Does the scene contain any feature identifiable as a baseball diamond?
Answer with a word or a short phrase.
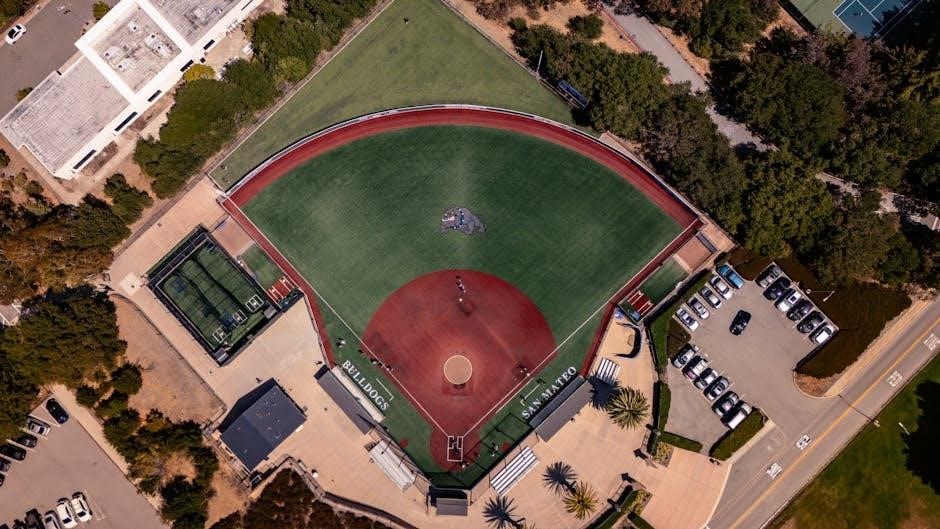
Yes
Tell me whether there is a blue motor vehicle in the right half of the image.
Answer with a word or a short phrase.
Yes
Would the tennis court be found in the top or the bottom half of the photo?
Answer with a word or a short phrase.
top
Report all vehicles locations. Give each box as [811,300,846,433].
[713,390,738,416]
[686,296,711,320]
[786,298,812,321]
[693,366,717,391]
[73,494,92,522]
[26,506,48,529]
[723,401,752,430]
[671,343,696,369]
[0,454,17,474]
[763,277,789,299]
[718,264,746,291]
[808,321,835,344]
[47,399,71,423]
[698,286,723,310]
[12,431,39,450]
[681,353,710,382]
[705,377,729,400]
[57,500,78,528]
[753,264,783,289]
[774,288,801,310]
[25,417,54,437]
[44,510,63,529]
[795,308,826,333]
[675,308,699,332]
[5,22,29,46]
[0,442,28,462]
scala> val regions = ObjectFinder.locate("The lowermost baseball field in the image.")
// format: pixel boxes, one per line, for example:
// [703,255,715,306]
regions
[222,107,705,487]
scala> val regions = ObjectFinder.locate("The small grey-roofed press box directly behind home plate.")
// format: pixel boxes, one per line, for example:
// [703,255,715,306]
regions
[430,491,467,516]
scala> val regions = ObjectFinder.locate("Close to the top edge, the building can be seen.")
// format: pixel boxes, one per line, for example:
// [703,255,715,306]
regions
[0,0,263,179]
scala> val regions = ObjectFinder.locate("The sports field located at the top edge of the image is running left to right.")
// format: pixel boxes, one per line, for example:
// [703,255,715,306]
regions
[212,0,612,198]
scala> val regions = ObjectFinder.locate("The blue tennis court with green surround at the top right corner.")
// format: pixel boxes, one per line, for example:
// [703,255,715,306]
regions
[778,0,940,129]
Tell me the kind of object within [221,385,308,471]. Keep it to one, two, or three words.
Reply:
building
